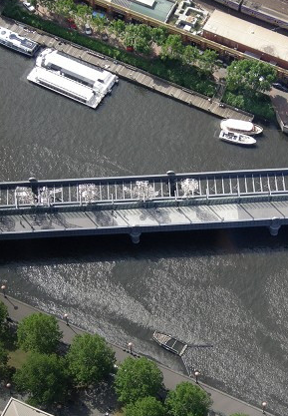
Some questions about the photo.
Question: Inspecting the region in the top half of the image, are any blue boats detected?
No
